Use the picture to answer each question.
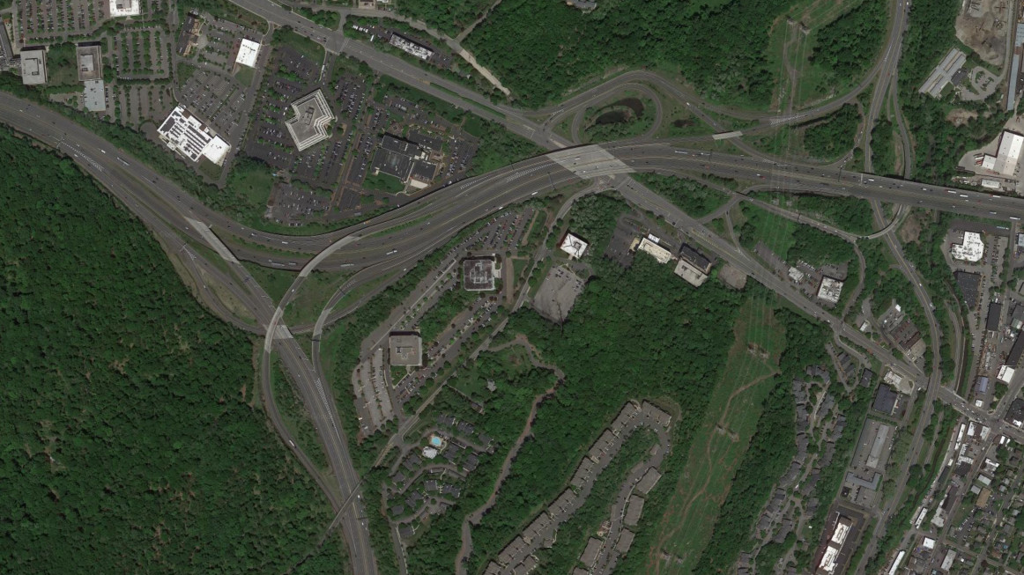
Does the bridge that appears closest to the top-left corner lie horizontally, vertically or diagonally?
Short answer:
diagonally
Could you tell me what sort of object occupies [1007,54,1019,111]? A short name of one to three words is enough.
shed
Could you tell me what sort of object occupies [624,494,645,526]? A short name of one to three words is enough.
house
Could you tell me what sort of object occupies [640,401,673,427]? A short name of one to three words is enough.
house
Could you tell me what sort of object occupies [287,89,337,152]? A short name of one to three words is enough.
building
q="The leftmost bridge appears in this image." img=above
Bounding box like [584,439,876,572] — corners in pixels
[182,213,242,268]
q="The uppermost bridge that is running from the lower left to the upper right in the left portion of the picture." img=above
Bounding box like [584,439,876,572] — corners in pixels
[299,231,358,276]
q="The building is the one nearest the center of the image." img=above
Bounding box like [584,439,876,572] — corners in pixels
[464,260,497,290]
